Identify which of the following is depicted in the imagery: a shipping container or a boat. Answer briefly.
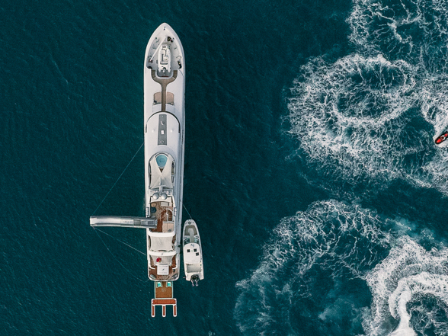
boat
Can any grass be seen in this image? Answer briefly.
No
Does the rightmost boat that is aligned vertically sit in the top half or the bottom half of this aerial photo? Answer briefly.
bottom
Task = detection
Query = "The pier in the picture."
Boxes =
[152,298,177,317]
